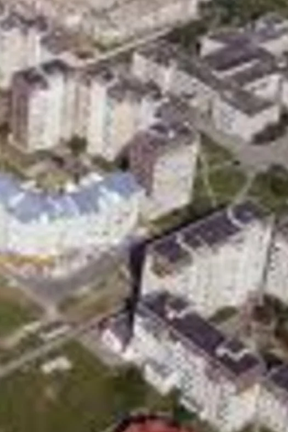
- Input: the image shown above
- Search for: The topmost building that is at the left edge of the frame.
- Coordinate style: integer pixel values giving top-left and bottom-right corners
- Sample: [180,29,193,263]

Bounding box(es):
[0,9,48,85]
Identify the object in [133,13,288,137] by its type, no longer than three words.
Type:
building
